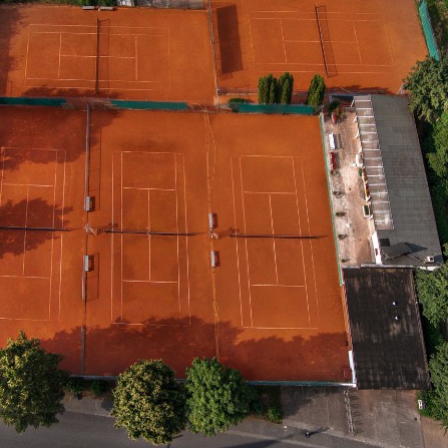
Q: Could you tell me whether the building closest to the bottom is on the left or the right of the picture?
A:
right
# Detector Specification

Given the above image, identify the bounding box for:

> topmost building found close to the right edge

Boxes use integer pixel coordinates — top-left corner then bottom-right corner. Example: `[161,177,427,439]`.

[352,92,443,269]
